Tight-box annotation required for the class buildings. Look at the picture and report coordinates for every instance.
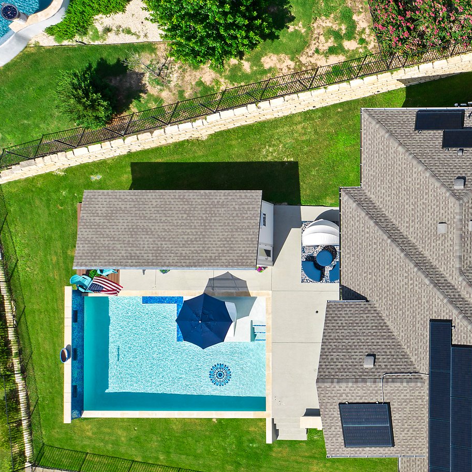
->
[78,190,276,270]
[317,105,472,472]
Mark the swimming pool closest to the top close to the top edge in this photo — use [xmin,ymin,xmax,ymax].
[0,0,77,73]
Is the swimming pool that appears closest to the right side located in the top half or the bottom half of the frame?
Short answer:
bottom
